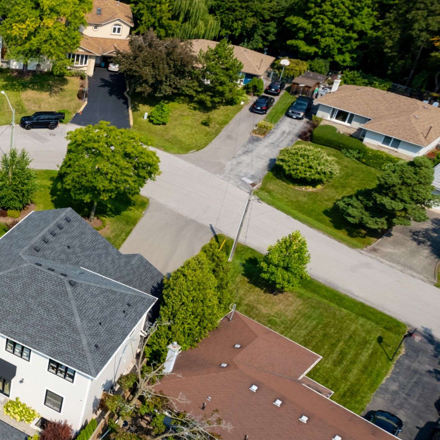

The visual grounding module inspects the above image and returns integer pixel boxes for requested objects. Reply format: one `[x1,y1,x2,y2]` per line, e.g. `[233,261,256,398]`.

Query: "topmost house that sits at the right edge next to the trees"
[314,75,440,162]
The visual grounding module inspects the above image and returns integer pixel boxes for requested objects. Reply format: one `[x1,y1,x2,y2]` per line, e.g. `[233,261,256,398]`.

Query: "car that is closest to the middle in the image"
[254,92,276,111]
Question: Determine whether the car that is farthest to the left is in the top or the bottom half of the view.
top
